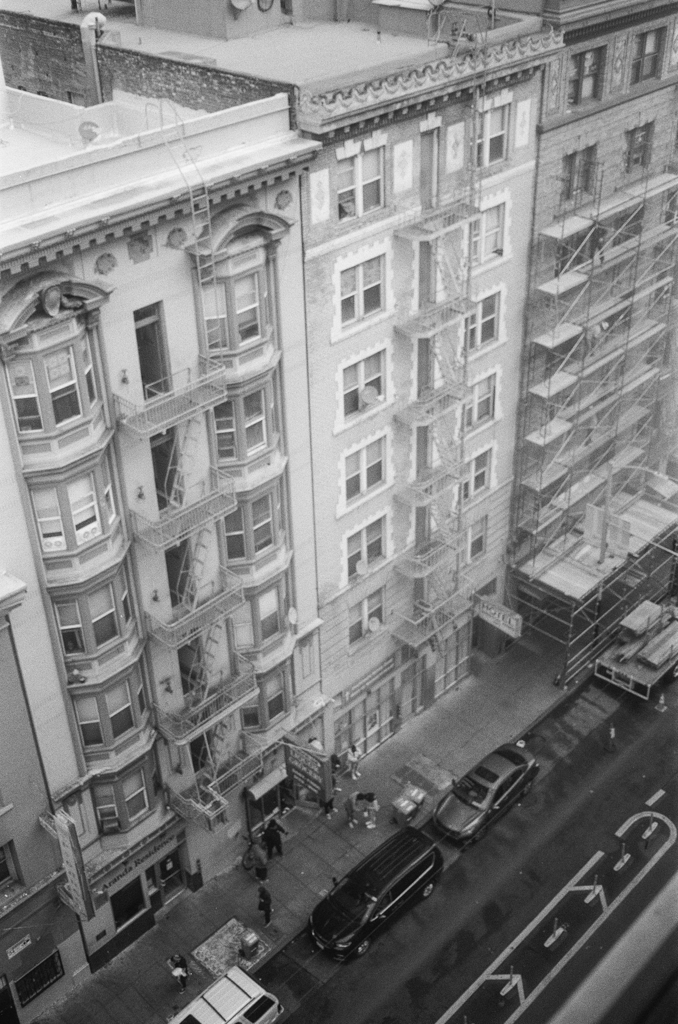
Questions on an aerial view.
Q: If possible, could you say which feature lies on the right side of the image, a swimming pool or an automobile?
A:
automobile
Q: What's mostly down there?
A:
buildings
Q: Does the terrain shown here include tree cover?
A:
No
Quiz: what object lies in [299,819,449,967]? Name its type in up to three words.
car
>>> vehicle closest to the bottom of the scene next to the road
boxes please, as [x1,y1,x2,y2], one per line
[166,959,286,1024]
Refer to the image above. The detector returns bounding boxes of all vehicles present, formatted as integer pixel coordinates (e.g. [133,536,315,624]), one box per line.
[299,819,449,967]
[430,733,552,844]
[596,593,678,703]
[166,959,286,1024]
